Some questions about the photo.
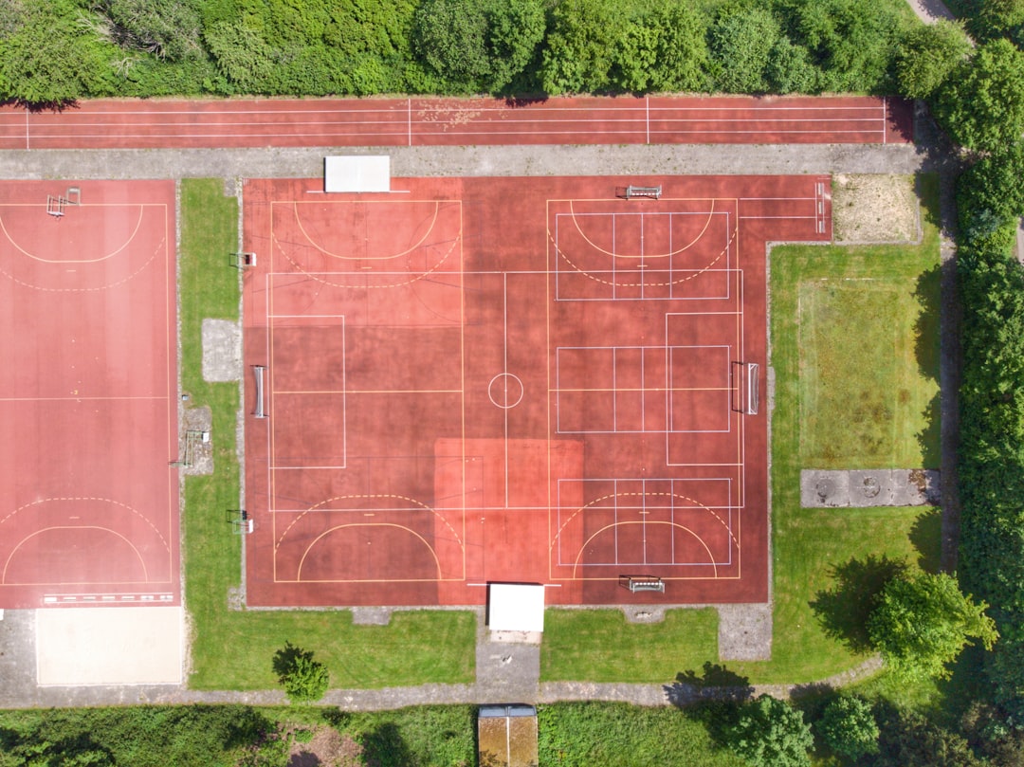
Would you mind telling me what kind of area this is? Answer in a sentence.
It's a sports ground.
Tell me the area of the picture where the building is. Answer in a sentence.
The building sits in the bottom section of the image.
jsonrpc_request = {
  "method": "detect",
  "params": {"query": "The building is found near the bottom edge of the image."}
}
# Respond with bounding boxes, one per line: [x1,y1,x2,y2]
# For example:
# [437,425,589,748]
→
[478,705,538,767]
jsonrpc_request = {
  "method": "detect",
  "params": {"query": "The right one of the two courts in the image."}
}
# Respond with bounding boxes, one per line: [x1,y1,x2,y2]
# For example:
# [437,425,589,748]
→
[244,174,833,607]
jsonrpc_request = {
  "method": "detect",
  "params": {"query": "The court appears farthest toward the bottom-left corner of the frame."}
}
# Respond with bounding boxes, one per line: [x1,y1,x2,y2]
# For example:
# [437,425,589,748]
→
[0,179,180,609]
